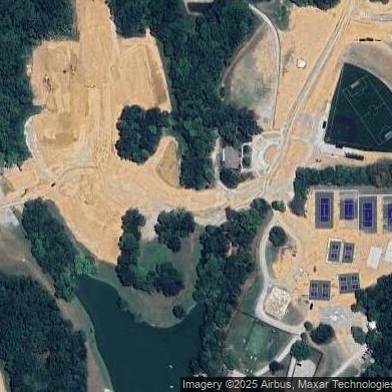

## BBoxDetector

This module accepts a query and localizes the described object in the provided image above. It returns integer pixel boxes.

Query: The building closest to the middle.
[222,146,241,170]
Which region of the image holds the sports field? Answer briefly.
top right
